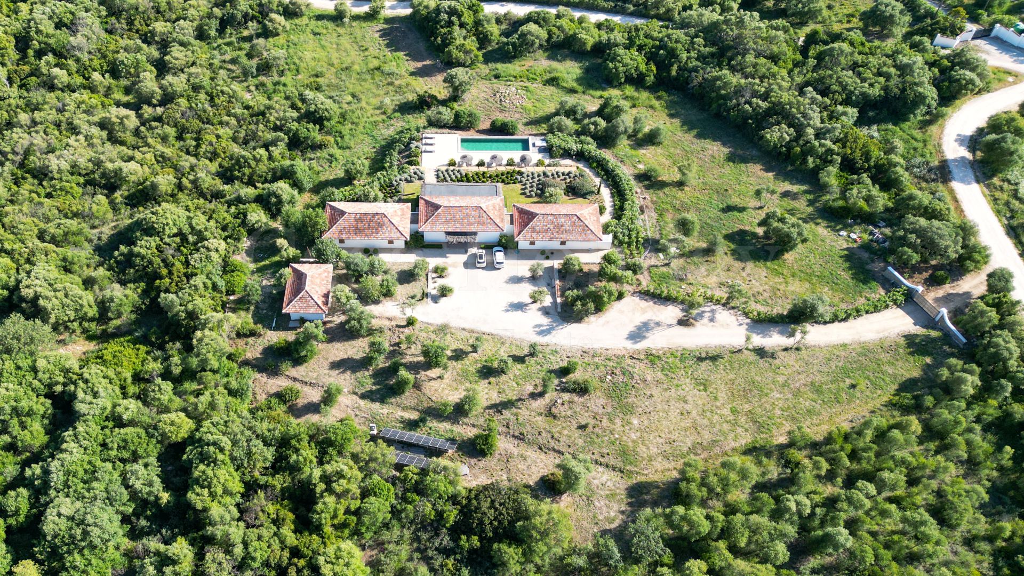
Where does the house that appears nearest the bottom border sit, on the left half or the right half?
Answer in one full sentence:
It is on the left.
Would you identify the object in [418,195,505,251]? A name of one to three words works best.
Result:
house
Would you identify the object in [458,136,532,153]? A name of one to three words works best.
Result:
swimming pool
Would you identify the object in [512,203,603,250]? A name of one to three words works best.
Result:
house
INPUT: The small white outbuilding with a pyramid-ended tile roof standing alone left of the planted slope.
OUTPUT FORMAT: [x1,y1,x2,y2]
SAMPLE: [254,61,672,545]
[282,263,332,322]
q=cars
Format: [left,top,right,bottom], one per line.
[474,250,487,269]
[492,248,505,269]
